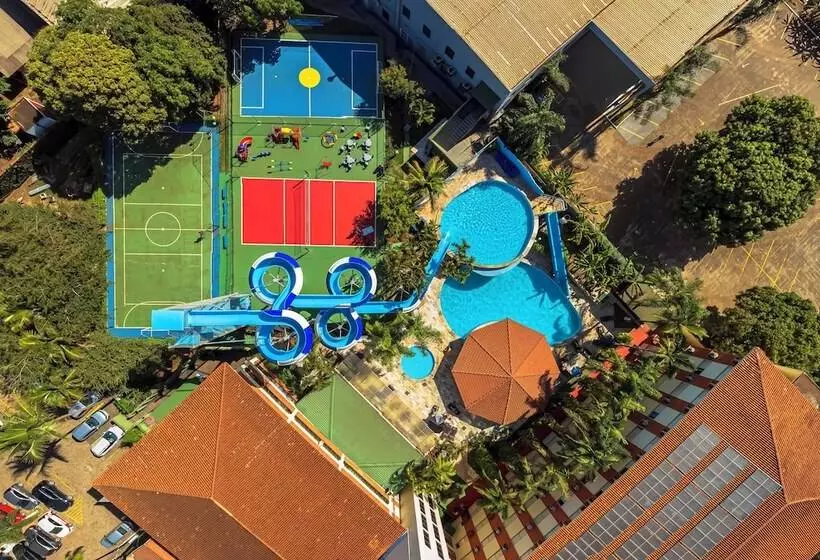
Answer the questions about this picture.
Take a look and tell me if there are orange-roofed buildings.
Yes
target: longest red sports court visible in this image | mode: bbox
[241,177,376,246]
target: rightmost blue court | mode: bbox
[239,38,378,118]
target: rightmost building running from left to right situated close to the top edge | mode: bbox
[380,0,751,164]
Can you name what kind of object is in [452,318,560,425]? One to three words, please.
building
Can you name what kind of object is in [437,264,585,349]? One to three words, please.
swimming pool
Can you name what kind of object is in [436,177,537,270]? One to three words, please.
swimming pool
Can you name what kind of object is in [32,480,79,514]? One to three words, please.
car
